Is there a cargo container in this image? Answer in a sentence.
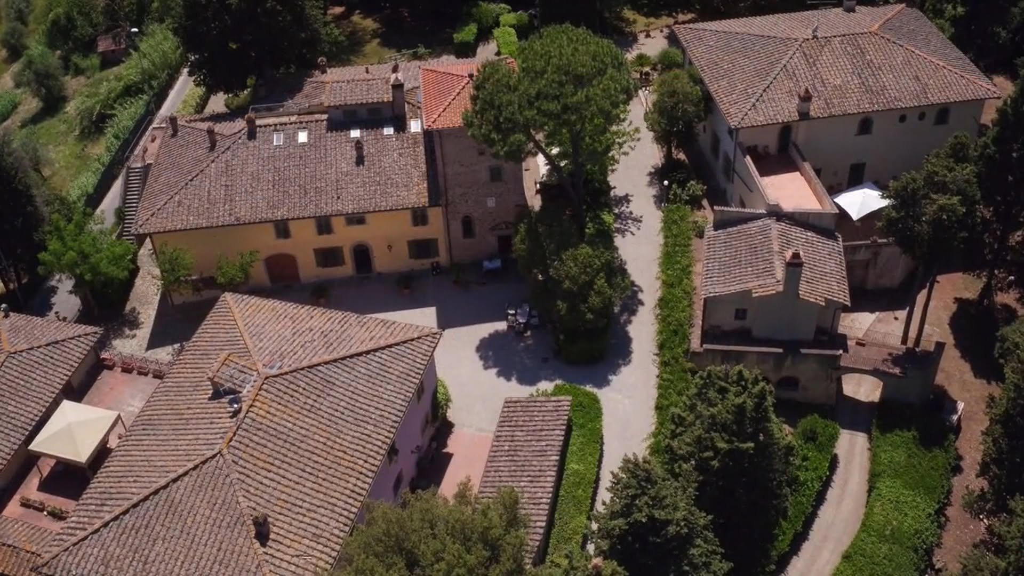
No, there appears to be no cargo container in this shot.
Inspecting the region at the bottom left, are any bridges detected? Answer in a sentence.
No, I see no bridge at the bottom left.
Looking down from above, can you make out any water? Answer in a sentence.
No, no water is visible.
